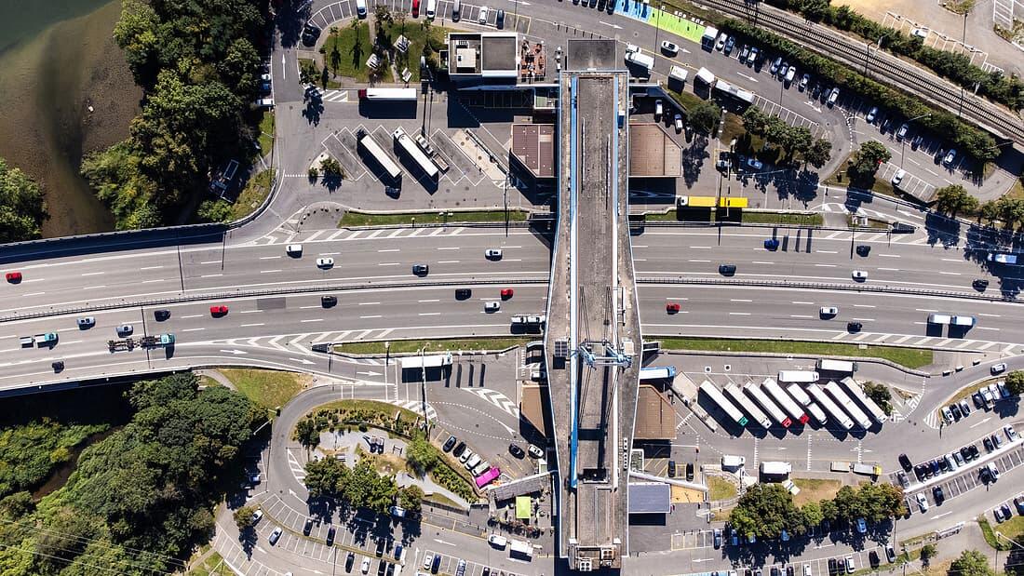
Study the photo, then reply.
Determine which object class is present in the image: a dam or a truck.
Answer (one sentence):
Visible in the photo is a truck.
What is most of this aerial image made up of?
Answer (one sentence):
The largest share of the image is taken up by paved ground.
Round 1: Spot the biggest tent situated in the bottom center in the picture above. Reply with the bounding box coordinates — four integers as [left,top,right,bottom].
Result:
[516,495,531,518]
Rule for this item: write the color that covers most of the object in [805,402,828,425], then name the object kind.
white truck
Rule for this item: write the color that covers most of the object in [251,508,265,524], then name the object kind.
white car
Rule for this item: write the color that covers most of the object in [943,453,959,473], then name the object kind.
white vehicle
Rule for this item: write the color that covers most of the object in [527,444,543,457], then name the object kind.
white vehicle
